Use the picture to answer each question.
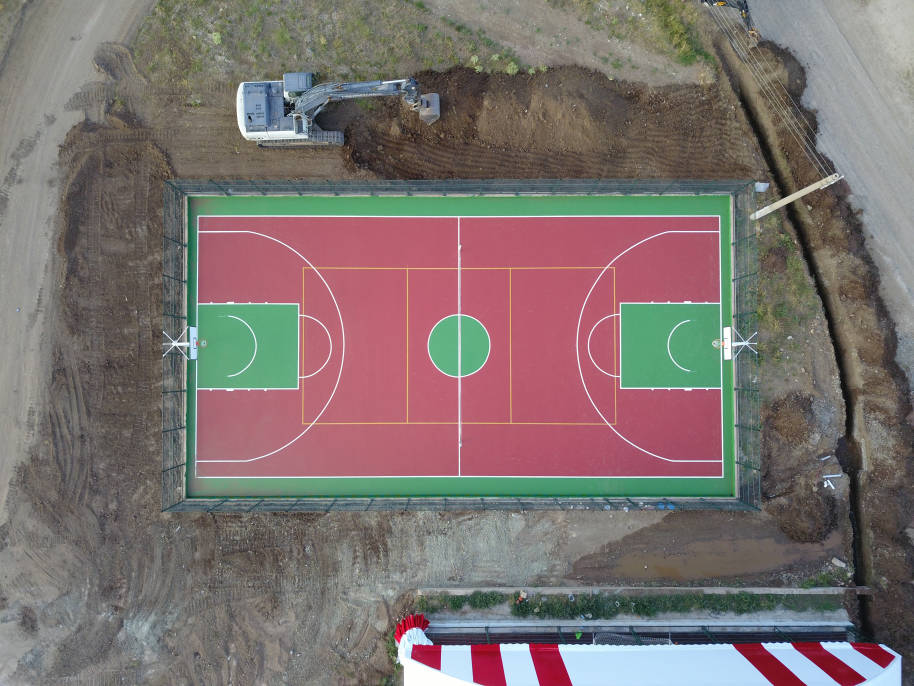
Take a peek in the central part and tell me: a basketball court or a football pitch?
basketball court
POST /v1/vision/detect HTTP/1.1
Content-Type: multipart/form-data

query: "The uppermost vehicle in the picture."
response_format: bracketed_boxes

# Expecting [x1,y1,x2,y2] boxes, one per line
[691,0,761,45]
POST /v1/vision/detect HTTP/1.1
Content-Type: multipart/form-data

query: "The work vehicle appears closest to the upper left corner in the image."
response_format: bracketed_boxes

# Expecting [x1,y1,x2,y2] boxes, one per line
[240,75,447,149]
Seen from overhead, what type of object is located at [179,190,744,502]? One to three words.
basketball court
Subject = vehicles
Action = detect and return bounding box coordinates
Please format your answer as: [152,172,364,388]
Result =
[240,75,447,149]
[691,0,761,45]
